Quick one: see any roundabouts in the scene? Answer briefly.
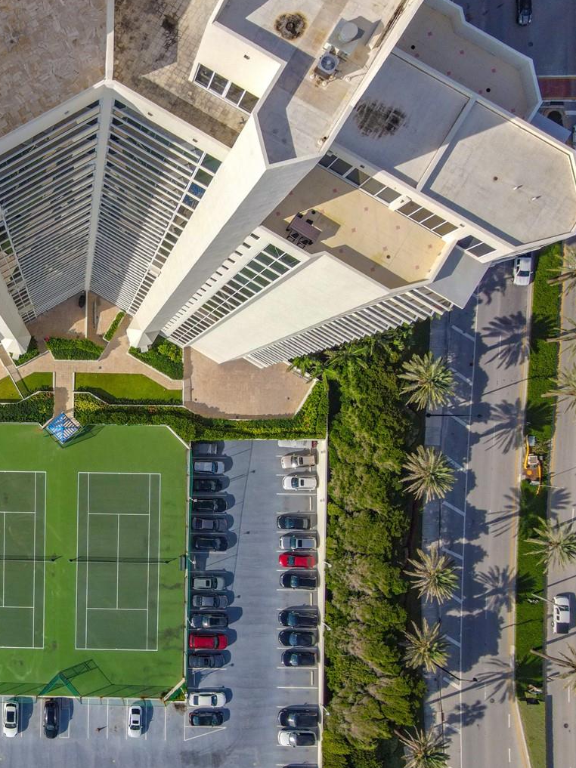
No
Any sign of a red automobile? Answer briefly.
Yes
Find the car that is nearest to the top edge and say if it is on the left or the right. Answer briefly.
right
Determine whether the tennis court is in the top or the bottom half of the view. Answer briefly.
bottom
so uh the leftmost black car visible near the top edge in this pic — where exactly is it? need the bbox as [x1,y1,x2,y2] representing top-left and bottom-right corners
[515,0,535,28]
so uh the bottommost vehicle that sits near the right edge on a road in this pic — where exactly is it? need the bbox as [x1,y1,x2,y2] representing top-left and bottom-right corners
[550,592,571,635]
